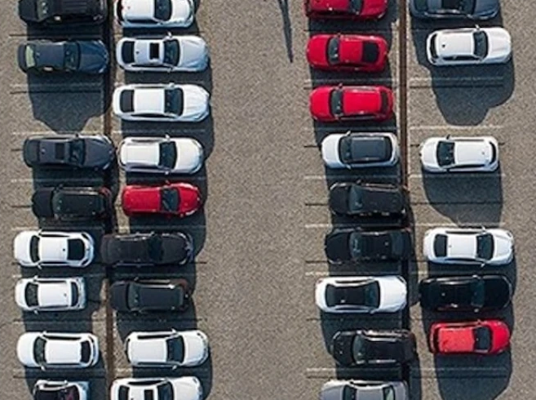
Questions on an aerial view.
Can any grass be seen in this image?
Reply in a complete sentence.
No, there is no grass in the image.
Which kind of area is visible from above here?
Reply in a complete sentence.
It's a parking lot.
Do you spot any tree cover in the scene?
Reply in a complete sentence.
No, the scene doesn't show any tree cover.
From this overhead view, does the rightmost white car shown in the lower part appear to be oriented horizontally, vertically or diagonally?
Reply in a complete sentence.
In this picture, the rightmost white car shown in the lower part is oriented horizontally.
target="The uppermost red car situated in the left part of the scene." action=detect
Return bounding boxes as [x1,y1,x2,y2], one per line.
[120,179,203,220]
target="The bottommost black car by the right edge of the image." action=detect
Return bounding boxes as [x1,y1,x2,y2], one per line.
[419,273,513,314]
